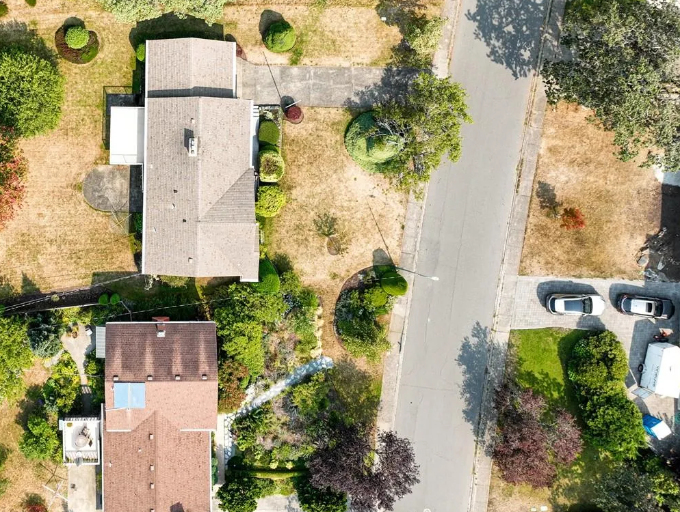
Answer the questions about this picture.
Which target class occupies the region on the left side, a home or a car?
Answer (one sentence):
Looking on the left side, you will find a home.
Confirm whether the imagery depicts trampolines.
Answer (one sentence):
No, no trampoline is visible in the view.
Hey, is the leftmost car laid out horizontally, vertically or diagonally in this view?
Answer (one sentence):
The leftmost car is oriented horizontally.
